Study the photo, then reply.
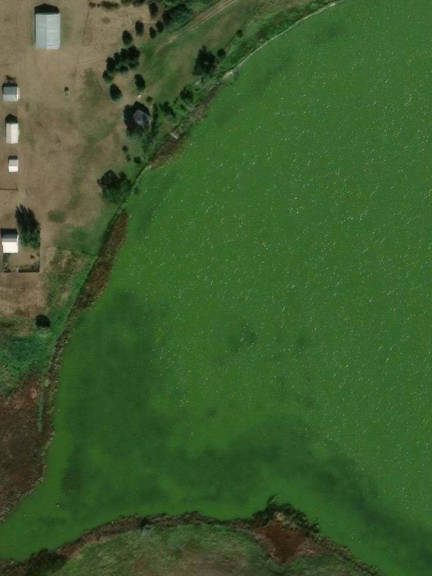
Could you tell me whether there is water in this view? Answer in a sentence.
Yes, some water is visible.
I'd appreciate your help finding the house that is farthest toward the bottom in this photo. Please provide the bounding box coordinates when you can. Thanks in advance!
[0,233,19,253]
